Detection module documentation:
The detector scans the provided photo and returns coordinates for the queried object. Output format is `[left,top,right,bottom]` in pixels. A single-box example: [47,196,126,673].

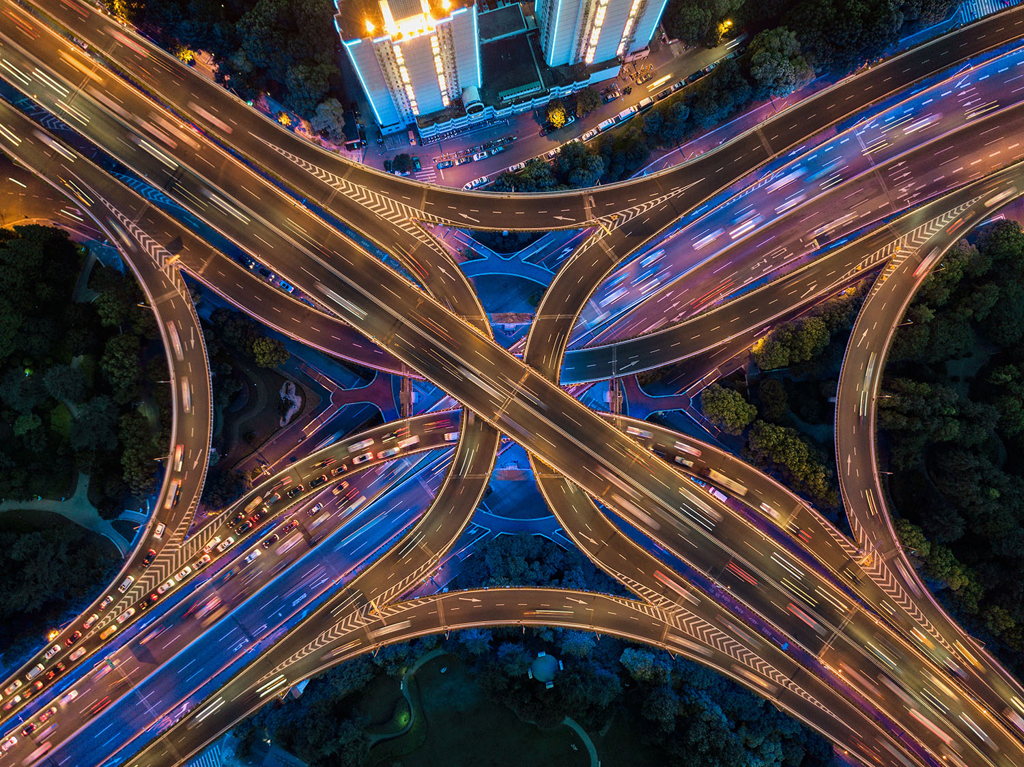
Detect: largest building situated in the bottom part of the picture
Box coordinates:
[531,651,558,681]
